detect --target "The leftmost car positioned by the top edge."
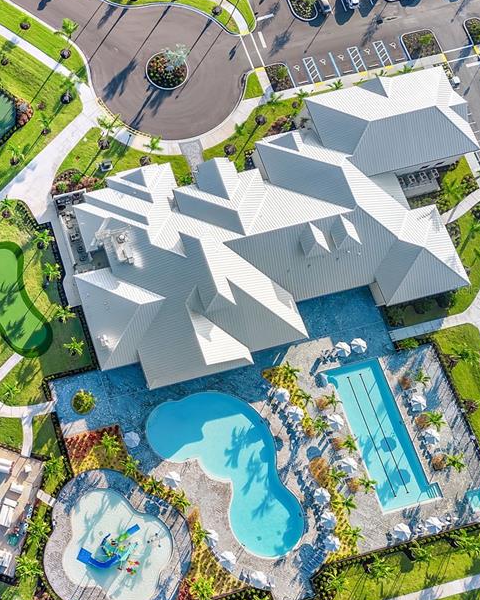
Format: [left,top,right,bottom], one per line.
[317,0,332,14]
